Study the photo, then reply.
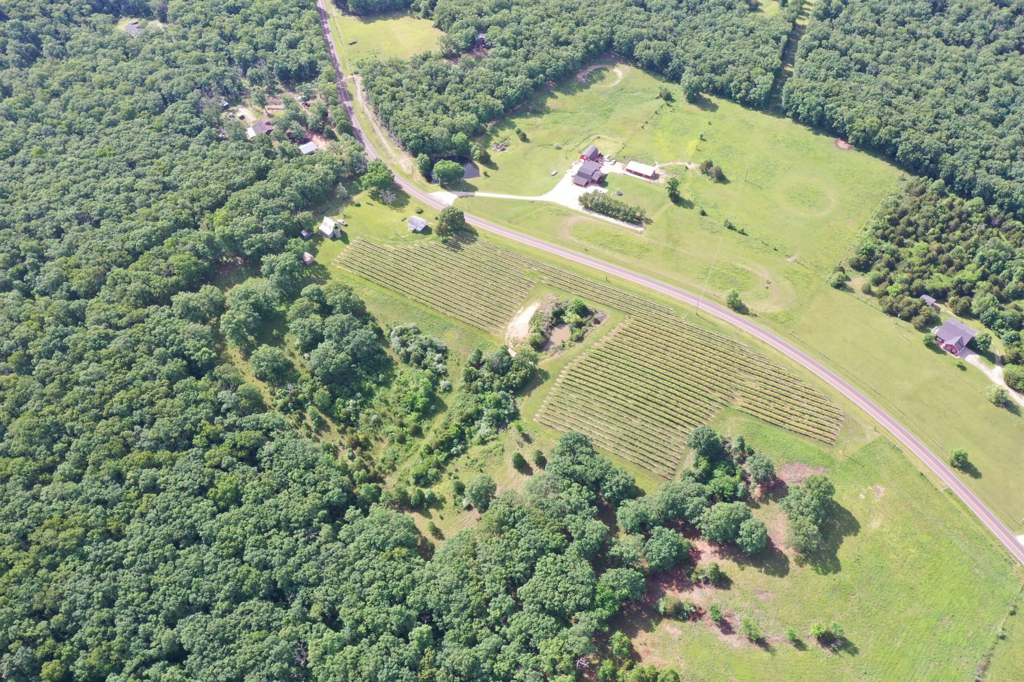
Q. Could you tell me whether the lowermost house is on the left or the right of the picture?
right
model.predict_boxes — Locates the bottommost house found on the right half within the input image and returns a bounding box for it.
[932,318,978,355]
